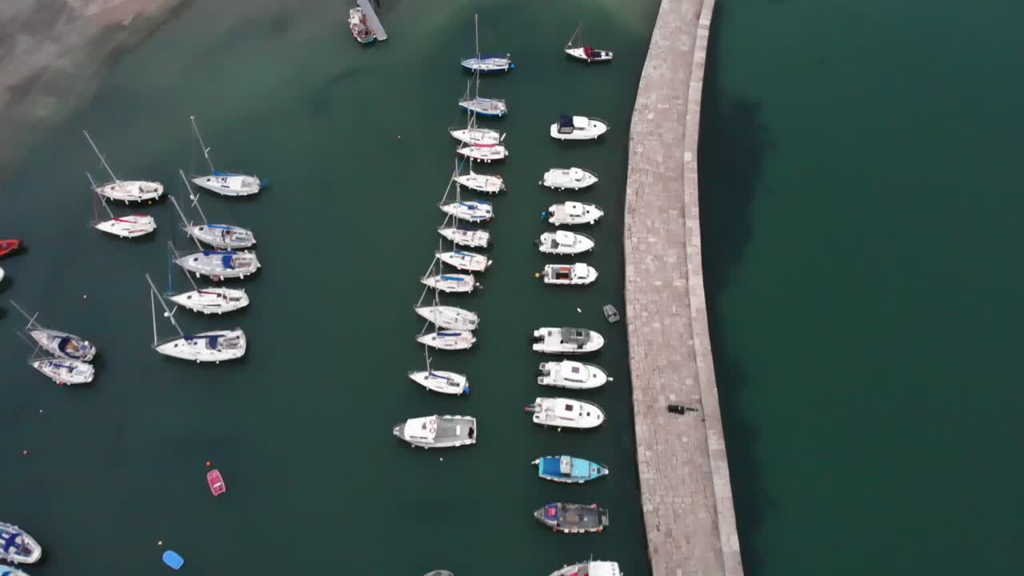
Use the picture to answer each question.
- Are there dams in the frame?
No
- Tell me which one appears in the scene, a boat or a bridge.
boat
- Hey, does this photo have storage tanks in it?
No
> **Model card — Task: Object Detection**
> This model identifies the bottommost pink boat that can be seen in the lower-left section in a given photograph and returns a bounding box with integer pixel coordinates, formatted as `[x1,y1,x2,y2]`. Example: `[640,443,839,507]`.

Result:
[207,468,228,498]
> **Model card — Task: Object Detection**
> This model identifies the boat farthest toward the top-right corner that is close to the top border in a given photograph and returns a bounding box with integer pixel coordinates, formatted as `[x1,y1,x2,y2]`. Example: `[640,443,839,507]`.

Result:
[565,21,613,63]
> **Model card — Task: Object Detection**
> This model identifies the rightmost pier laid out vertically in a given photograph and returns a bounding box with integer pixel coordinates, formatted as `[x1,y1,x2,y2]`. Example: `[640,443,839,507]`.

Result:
[617,0,744,576]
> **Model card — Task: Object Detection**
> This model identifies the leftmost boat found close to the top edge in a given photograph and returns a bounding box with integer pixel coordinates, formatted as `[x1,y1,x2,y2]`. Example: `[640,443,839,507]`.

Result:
[349,4,373,45]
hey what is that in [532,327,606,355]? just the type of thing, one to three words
boat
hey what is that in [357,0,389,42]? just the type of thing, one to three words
pier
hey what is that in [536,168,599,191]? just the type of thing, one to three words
boat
